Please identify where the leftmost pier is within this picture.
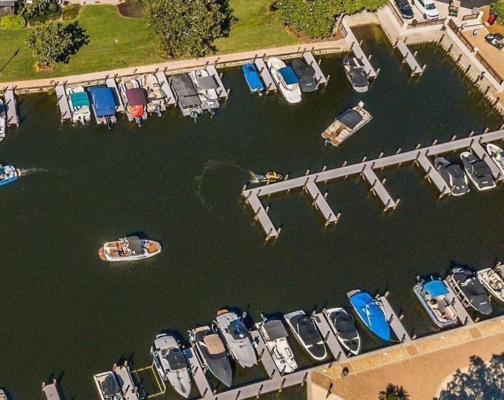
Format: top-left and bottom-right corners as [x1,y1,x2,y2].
[3,87,20,129]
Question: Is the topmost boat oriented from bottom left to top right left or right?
right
